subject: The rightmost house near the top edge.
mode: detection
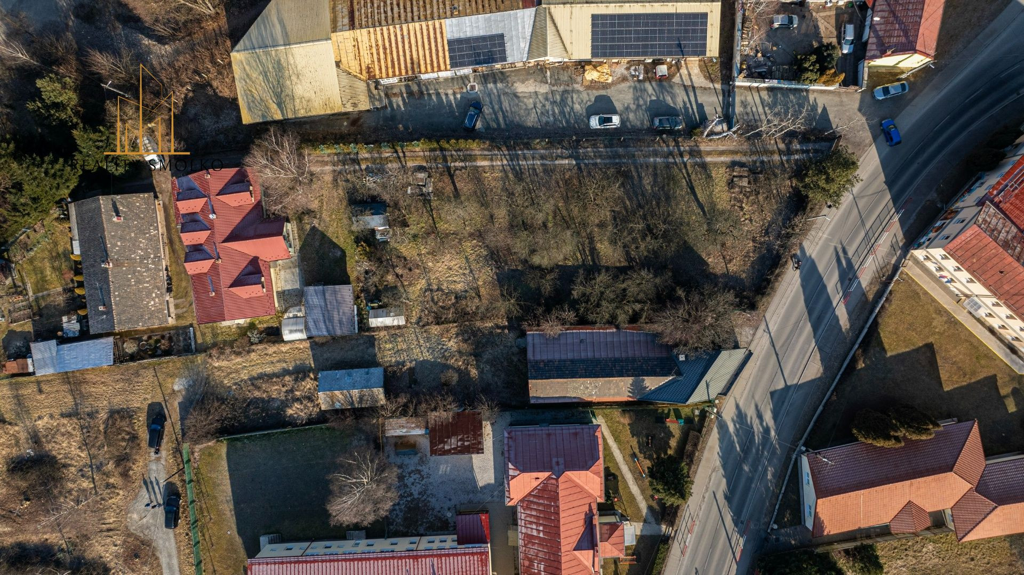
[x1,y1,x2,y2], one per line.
[856,0,945,65]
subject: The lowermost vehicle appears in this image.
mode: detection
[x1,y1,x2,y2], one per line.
[163,493,183,528]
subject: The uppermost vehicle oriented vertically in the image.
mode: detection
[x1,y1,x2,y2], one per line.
[840,22,857,57]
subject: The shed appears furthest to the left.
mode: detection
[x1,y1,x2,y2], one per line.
[2,358,34,375]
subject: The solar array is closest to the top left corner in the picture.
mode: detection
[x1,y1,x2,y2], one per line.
[448,33,506,68]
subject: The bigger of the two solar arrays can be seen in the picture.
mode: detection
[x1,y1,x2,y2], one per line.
[592,13,708,57]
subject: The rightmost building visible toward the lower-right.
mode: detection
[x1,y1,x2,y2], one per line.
[800,419,1024,543]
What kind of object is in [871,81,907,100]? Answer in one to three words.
car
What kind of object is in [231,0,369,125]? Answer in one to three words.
building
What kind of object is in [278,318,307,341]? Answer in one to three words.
greenhouse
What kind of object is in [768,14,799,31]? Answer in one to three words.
car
